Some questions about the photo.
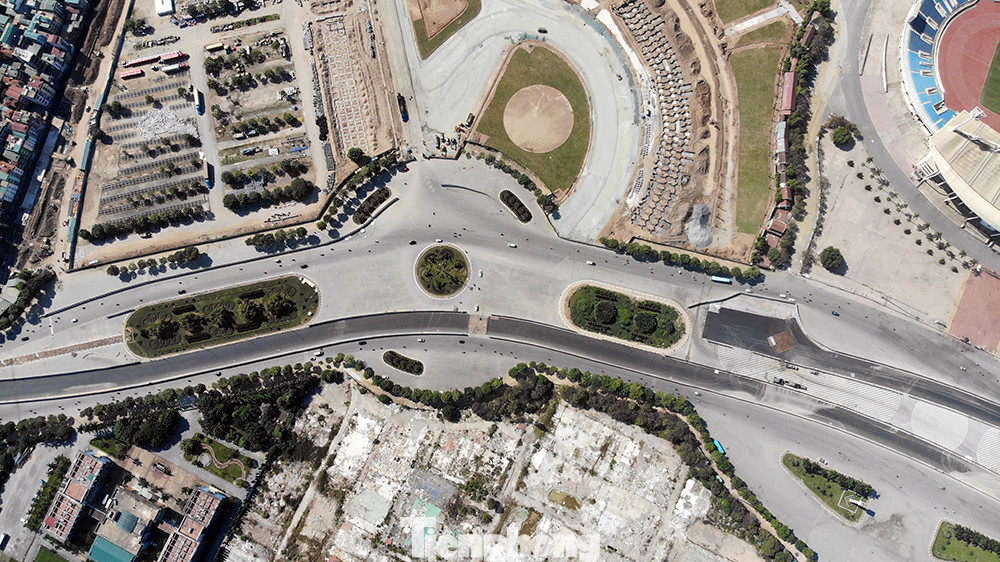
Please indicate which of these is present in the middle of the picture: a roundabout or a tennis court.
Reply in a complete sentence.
There is a roundabout in the middle of the picture.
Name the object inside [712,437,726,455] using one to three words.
vehicle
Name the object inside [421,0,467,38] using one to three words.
sports field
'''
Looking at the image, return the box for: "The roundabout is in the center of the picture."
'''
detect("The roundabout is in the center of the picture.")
[413,242,472,300]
